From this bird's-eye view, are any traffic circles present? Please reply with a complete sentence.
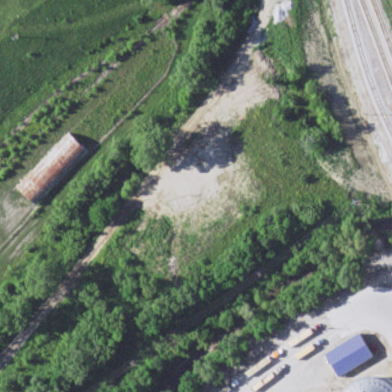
No, I can see no traffic circle in this picture.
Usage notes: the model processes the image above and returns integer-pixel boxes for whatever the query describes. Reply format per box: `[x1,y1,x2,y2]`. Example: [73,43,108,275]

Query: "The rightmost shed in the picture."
[326,334,373,377]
